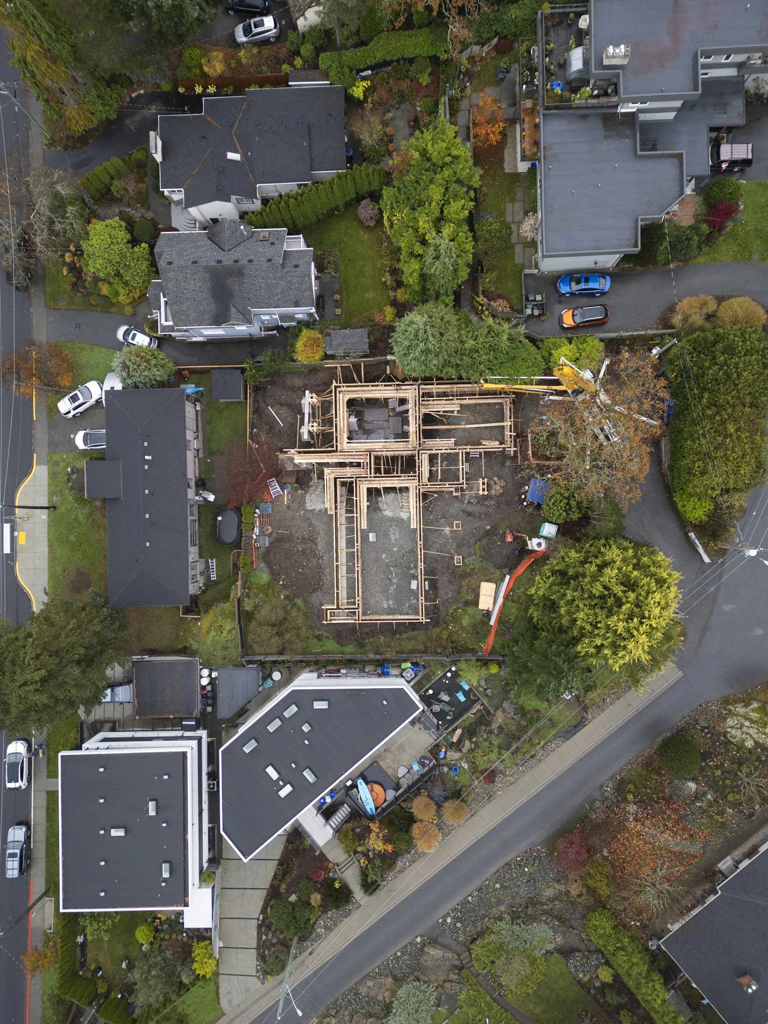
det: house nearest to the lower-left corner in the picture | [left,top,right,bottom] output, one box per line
[59,721,218,928]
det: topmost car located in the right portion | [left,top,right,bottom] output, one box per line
[709,143,757,173]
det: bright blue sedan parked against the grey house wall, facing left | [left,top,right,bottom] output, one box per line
[555,271,611,299]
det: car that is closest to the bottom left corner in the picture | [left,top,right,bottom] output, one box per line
[4,819,34,880]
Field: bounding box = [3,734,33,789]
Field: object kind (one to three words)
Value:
car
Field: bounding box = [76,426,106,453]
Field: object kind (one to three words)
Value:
car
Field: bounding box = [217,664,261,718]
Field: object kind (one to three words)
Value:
shed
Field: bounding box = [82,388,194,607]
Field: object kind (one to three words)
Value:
house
